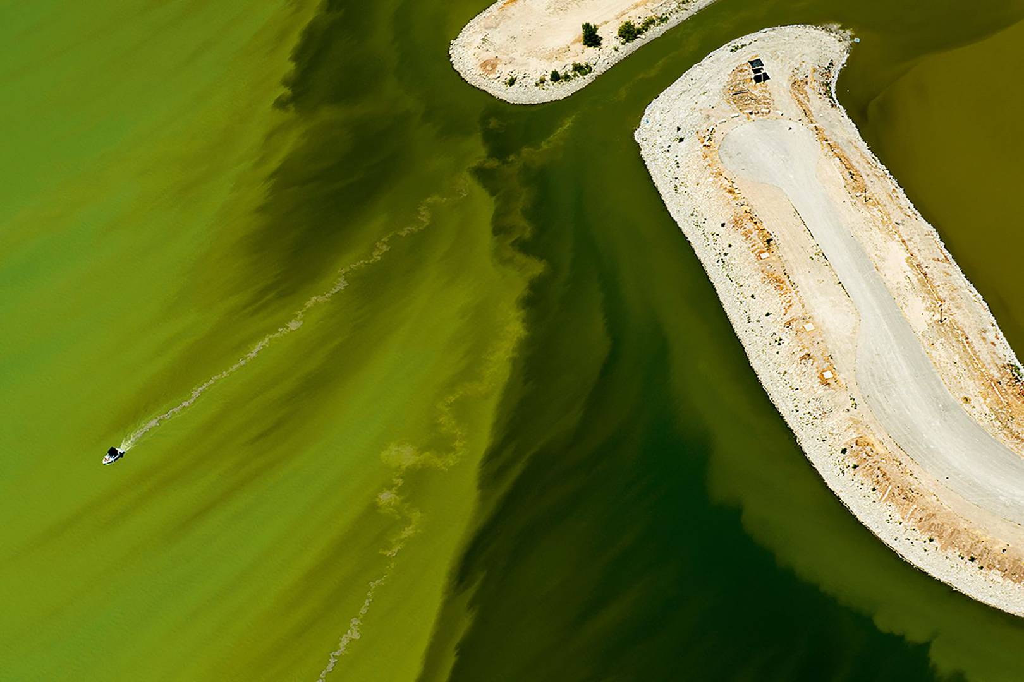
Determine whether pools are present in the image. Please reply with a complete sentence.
No, I can't see a single pool in this photo.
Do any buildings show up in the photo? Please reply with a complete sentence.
No, there appears to be no building in this shot.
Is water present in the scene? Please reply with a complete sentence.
Yes, some water is visible.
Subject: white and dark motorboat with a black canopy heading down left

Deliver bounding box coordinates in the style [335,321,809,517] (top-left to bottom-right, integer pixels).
[103,447,124,464]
